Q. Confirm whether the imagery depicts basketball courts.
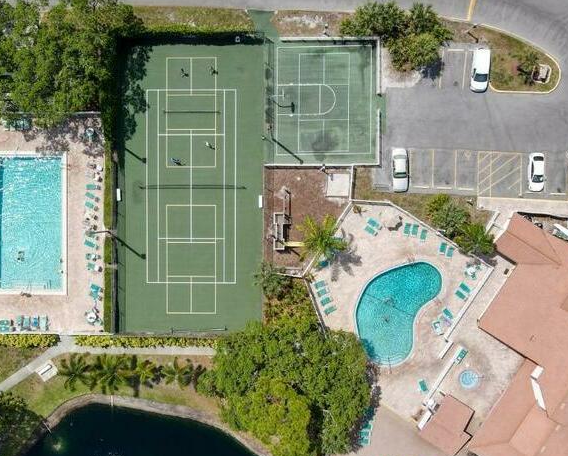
Yes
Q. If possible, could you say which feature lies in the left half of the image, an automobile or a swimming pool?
swimming pool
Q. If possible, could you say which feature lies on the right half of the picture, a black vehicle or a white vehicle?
white vehicle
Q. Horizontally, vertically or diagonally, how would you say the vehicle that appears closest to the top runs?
vertically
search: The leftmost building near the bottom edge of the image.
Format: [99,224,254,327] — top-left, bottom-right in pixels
[421,394,474,454]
